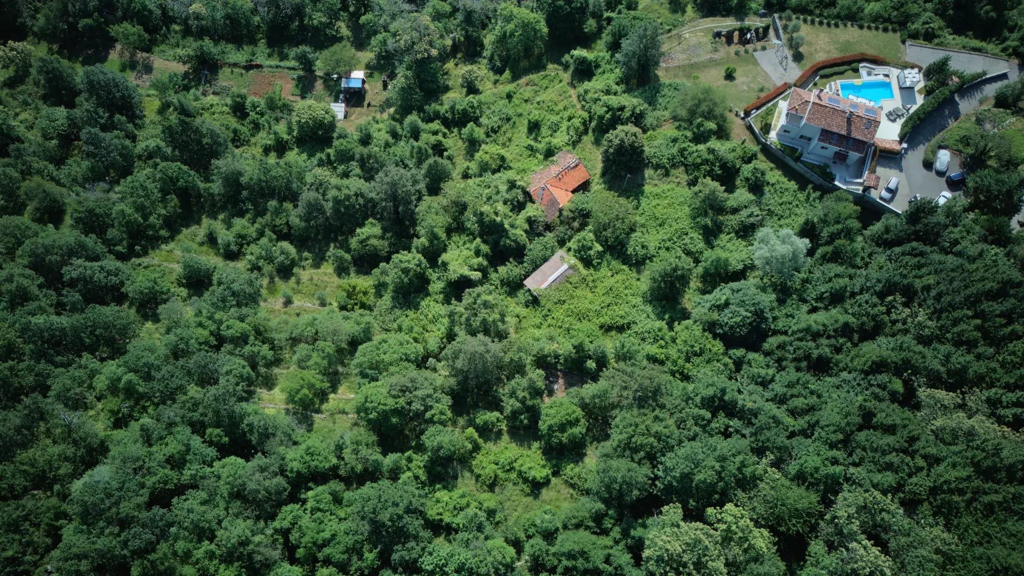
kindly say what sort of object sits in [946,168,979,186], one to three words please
car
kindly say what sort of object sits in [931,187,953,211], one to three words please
car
